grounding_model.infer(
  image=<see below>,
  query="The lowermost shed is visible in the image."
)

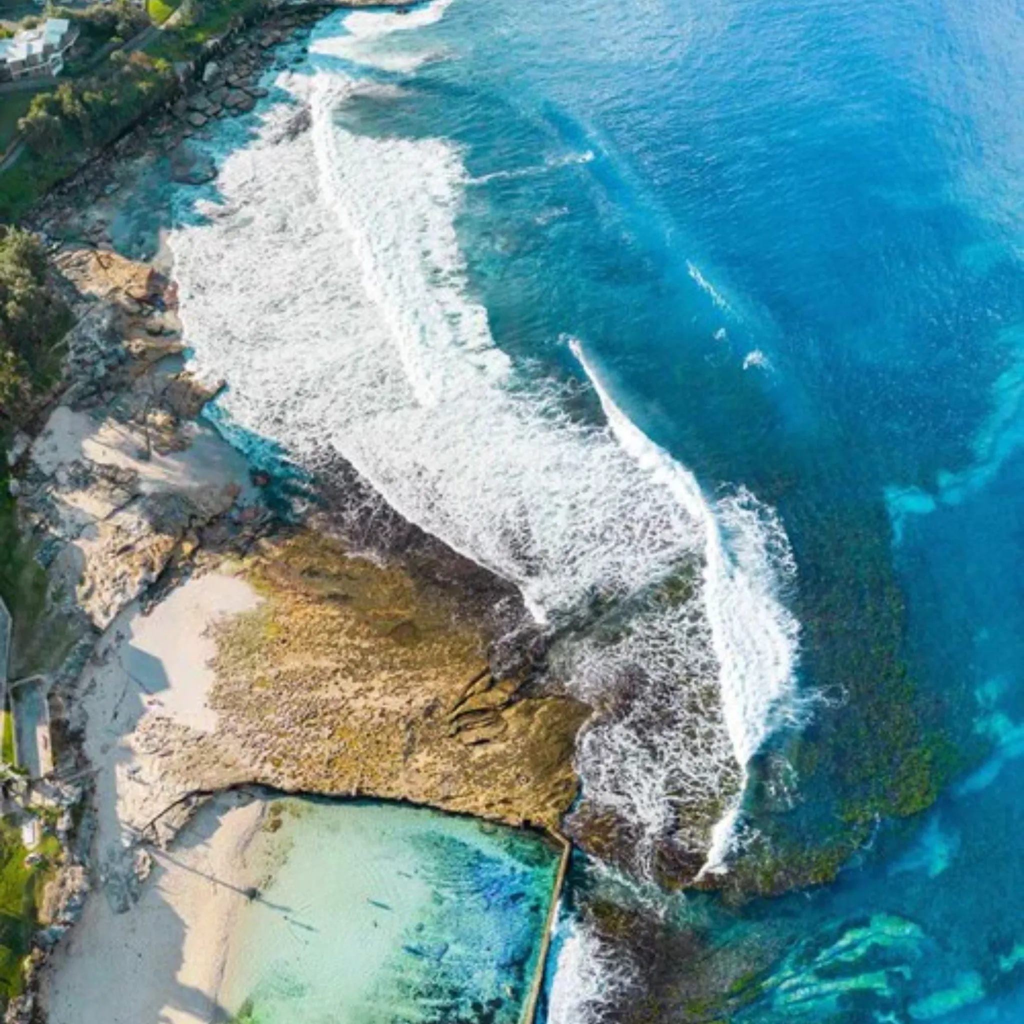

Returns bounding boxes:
[22,821,45,850]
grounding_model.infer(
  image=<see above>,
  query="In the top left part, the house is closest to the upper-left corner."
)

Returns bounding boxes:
[0,19,81,80]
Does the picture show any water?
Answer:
Yes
